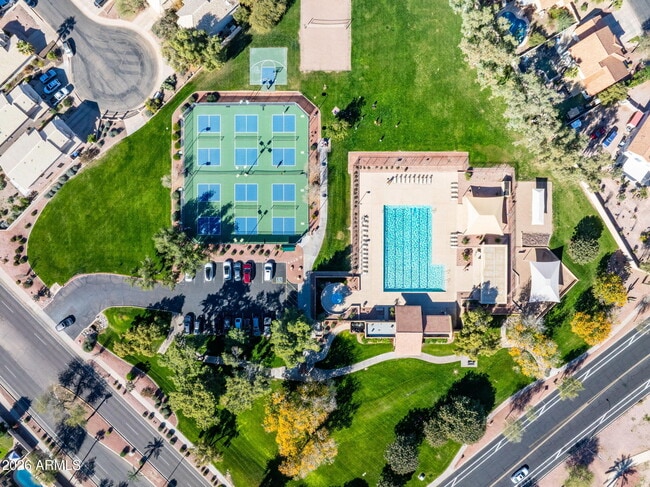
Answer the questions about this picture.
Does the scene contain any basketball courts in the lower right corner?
No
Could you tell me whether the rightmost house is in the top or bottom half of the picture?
top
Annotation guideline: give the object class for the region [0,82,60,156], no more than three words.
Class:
house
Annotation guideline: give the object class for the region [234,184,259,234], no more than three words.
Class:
sports court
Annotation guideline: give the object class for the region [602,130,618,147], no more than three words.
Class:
car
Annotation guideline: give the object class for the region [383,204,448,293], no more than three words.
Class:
swimming pool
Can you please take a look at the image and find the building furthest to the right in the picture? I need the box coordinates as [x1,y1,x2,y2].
[615,112,650,197]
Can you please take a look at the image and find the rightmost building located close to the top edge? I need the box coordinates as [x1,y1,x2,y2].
[564,15,631,98]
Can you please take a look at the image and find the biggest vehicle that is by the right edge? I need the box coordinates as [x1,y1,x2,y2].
[625,108,649,132]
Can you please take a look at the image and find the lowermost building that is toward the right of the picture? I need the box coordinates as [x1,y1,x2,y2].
[366,305,453,356]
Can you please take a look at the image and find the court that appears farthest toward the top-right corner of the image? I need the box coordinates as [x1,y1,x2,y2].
[300,0,352,71]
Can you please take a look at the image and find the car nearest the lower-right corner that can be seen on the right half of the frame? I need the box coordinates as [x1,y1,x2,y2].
[510,466,529,482]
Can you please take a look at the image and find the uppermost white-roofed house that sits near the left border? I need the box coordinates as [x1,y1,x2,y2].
[0,16,45,90]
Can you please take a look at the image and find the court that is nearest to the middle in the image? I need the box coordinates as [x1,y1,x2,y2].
[271,184,295,234]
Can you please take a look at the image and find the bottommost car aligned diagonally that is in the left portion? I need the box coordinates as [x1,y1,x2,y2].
[58,316,76,330]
